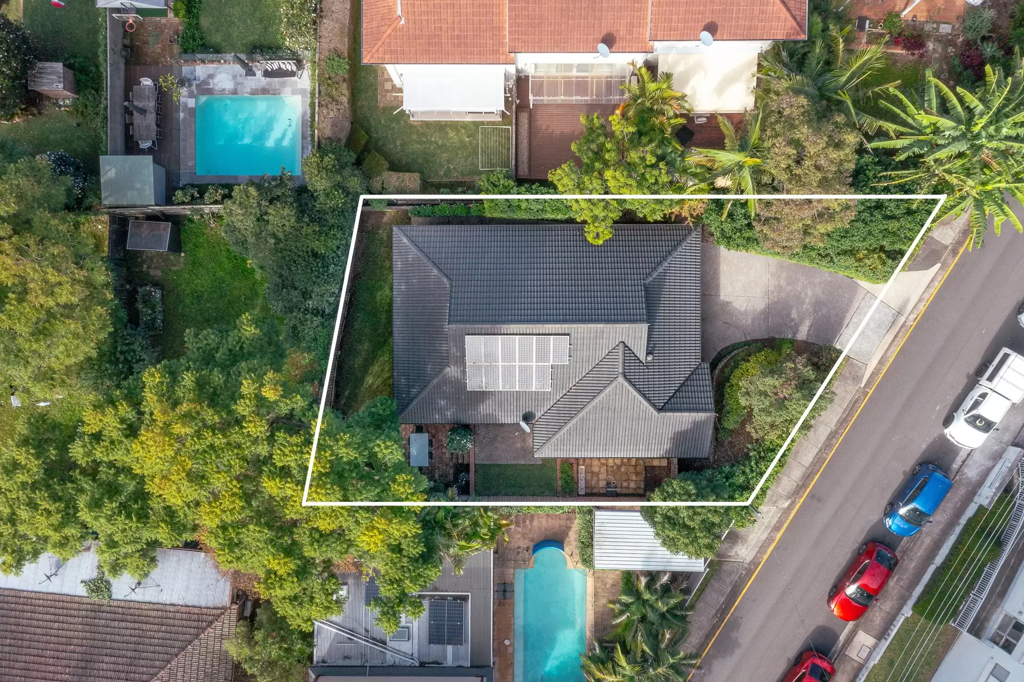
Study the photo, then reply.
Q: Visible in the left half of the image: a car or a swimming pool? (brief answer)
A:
swimming pool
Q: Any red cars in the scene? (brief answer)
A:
Yes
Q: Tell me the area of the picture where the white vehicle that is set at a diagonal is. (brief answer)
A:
right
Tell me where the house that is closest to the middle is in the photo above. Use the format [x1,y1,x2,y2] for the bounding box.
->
[391,223,717,460]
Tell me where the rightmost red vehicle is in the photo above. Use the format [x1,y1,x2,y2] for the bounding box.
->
[828,541,901,626]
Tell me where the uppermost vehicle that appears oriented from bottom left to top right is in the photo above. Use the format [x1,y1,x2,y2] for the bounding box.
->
[949,343,1024,446]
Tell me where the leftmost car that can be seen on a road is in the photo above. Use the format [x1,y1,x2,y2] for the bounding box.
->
[785,652,835,682]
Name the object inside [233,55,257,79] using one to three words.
umbrella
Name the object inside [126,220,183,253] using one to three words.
shed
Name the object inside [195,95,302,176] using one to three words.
swimming pool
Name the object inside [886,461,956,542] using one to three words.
car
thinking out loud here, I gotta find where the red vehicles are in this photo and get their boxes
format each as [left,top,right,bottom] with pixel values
[828,541,901,626]
[785,652,835,682]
